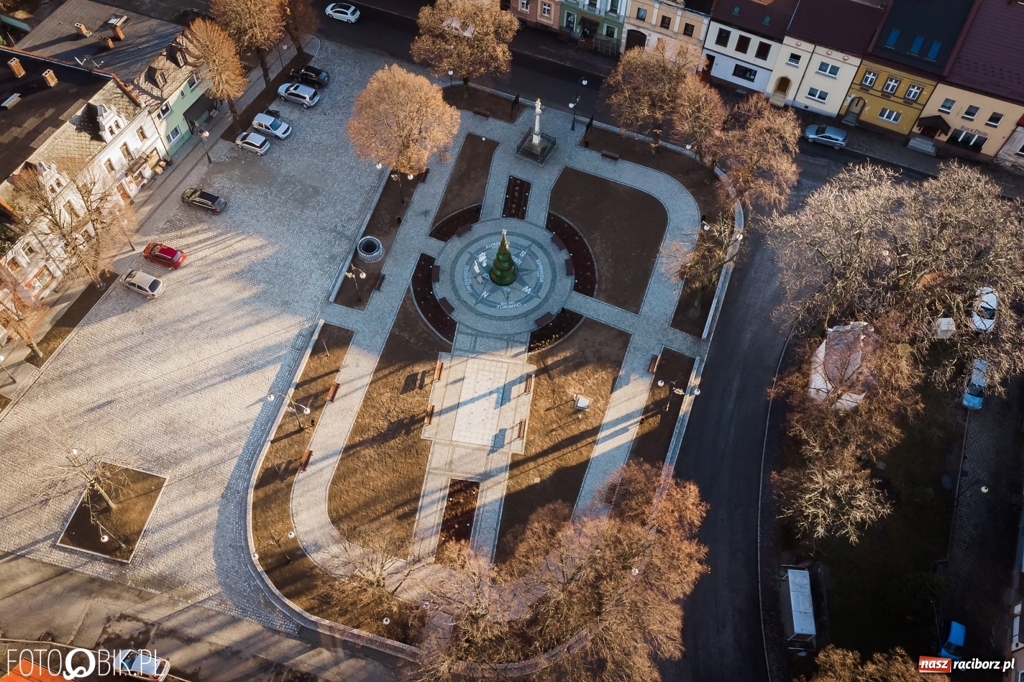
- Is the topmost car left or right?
left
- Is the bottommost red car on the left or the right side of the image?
left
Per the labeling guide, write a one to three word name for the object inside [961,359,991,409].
car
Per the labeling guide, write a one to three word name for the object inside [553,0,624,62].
house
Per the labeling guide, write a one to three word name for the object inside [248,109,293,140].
car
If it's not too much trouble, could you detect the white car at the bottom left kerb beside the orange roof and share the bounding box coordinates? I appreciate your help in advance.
[110,647,175,682]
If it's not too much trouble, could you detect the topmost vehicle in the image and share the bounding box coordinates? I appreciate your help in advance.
[322,1,363,26]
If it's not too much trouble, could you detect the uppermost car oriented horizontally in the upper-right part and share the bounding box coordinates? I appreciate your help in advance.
[803,123,851,150]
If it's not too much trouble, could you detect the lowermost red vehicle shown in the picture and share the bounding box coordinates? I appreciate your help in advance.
[140,241,191,272]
